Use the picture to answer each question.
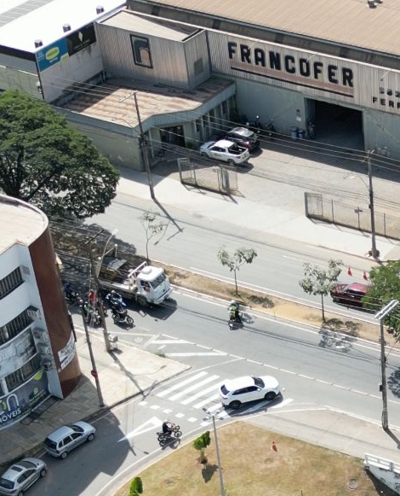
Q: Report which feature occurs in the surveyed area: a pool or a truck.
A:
truck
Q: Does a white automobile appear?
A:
Yes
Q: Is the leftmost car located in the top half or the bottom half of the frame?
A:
bottom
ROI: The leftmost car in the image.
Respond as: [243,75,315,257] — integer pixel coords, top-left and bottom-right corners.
[0,458,49,496]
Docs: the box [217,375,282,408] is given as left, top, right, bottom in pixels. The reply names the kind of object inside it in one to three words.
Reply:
car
